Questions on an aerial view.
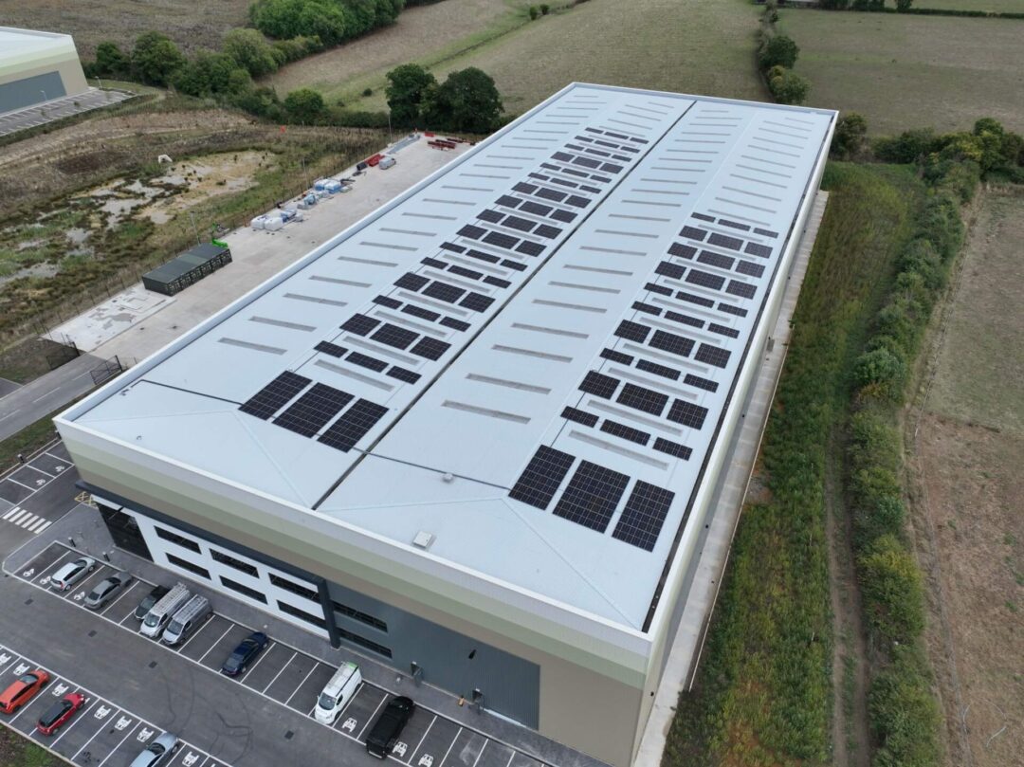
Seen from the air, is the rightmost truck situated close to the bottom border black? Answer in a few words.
Yes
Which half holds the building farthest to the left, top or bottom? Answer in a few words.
top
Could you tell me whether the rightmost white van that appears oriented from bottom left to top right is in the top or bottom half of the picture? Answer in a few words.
bottom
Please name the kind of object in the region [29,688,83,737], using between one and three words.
car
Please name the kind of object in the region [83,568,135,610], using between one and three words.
car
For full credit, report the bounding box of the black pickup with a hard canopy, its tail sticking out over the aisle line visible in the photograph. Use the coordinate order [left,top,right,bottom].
[356,692,409,761]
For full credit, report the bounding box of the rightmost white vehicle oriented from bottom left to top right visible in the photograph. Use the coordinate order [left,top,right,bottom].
[314,659,367,728]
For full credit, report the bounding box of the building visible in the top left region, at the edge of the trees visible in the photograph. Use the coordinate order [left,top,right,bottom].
[0,22,91,114]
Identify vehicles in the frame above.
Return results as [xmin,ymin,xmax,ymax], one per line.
[29,688,83,737]
[356,692,409,761]
[0,666,50,717]
[219,628,270,678]
[127,583,169,623]
[314,659,367,728]
[115,724,175,767]
[50,556,97,592]
[137,581,191,641]
[83,568,135,610]
[158,591,213,650]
